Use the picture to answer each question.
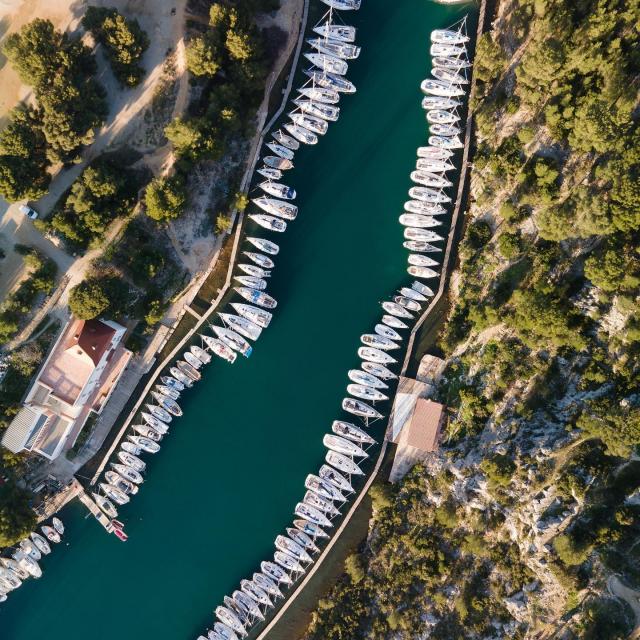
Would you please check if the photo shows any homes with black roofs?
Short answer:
No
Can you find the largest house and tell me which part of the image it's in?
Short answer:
left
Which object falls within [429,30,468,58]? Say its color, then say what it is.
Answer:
white boat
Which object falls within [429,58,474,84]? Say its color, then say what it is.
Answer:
white boat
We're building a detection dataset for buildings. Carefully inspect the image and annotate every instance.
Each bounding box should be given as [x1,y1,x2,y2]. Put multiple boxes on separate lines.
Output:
[1,312,134,458]
[407,398,444,451]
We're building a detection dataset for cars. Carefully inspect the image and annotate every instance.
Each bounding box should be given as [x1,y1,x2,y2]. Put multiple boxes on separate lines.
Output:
[21,205,38,218]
